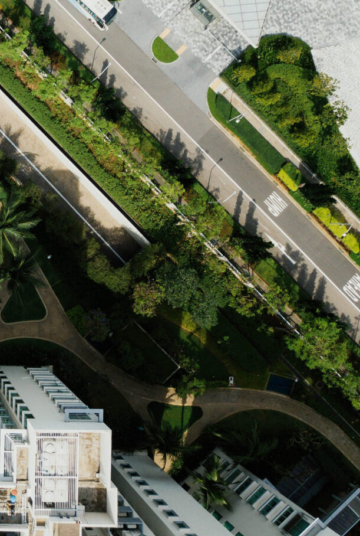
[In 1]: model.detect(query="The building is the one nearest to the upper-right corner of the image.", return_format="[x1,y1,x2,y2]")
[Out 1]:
[206,0,271,48]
